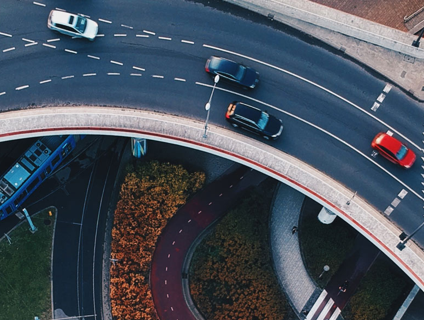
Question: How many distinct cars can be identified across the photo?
4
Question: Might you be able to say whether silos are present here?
No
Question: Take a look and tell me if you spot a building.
No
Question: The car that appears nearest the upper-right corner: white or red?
red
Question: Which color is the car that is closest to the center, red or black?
black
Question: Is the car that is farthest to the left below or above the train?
above it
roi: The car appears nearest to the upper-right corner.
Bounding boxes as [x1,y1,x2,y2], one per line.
[370,132,419,170]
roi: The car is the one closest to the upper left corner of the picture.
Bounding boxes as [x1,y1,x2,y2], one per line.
[47,7,101,43]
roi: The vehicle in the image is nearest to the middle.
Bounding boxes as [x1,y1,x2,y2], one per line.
[225,102,284,141]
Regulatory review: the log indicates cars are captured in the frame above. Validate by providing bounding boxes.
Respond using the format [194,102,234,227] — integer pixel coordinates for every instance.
[225,102,284,141]
[205,57,261,92]
[370,132,419,170]
[47,7,101,43]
